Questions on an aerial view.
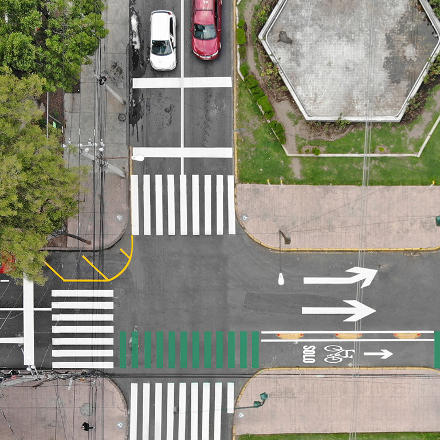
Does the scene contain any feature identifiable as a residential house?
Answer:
No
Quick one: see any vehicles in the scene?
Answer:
Yes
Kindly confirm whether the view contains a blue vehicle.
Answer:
No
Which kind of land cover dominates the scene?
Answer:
paved ground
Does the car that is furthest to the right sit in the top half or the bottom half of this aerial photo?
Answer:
top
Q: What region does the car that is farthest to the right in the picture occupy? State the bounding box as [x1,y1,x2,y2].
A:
[187,0,222,57]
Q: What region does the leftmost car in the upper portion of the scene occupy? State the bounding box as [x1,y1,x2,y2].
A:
[143,6,176,69]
